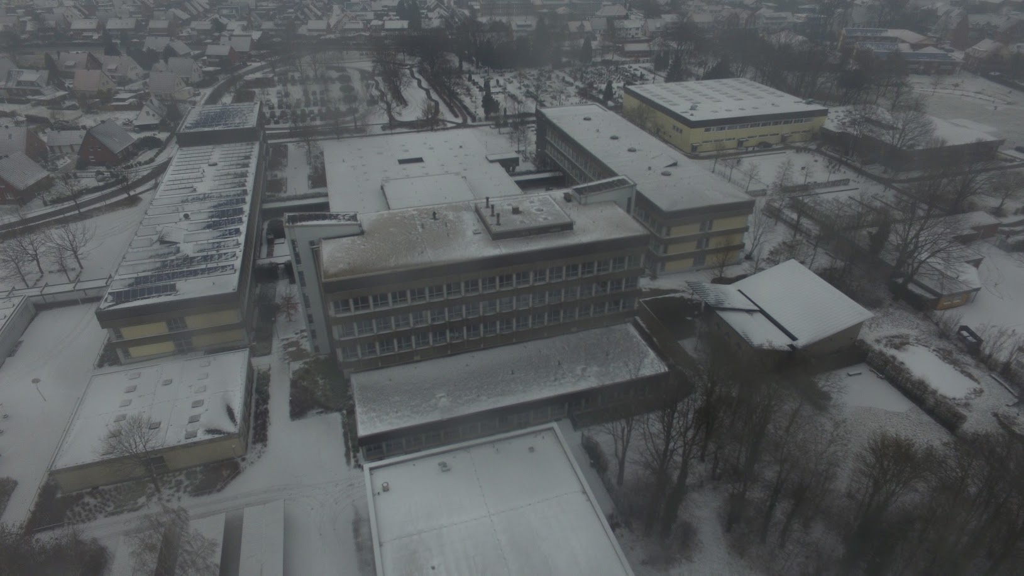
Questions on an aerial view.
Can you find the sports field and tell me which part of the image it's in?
top right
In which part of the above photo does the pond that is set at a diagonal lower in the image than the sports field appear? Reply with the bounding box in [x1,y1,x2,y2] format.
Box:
[896,345,982,398]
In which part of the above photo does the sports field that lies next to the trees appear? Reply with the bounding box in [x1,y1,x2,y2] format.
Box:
[910,74,1024,144]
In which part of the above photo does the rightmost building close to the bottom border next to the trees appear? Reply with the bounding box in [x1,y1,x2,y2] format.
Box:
[364,423,632,576]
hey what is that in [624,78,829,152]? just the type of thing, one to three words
building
